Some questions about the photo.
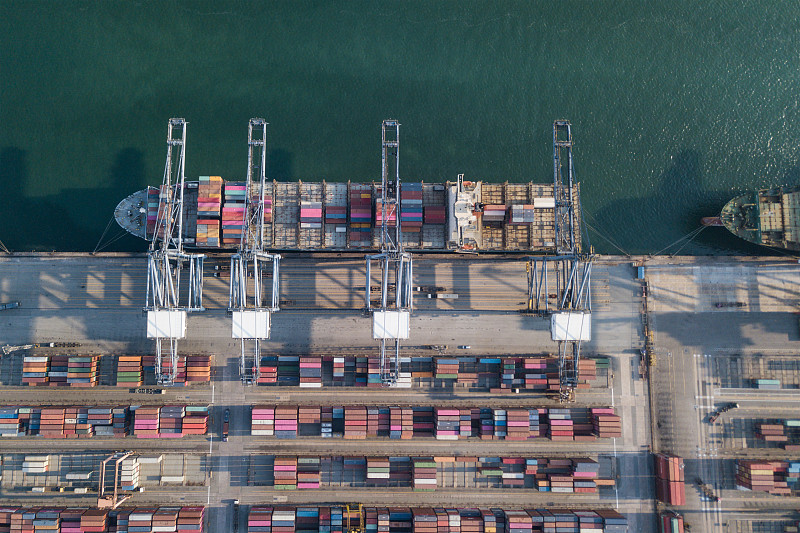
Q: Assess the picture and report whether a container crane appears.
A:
Yes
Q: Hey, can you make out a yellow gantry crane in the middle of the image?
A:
No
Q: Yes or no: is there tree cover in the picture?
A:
No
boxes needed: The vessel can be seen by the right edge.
[699,184,800,253]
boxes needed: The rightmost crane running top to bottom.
[519,118,593,385]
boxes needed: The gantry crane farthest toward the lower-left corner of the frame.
[98,452,137,510]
